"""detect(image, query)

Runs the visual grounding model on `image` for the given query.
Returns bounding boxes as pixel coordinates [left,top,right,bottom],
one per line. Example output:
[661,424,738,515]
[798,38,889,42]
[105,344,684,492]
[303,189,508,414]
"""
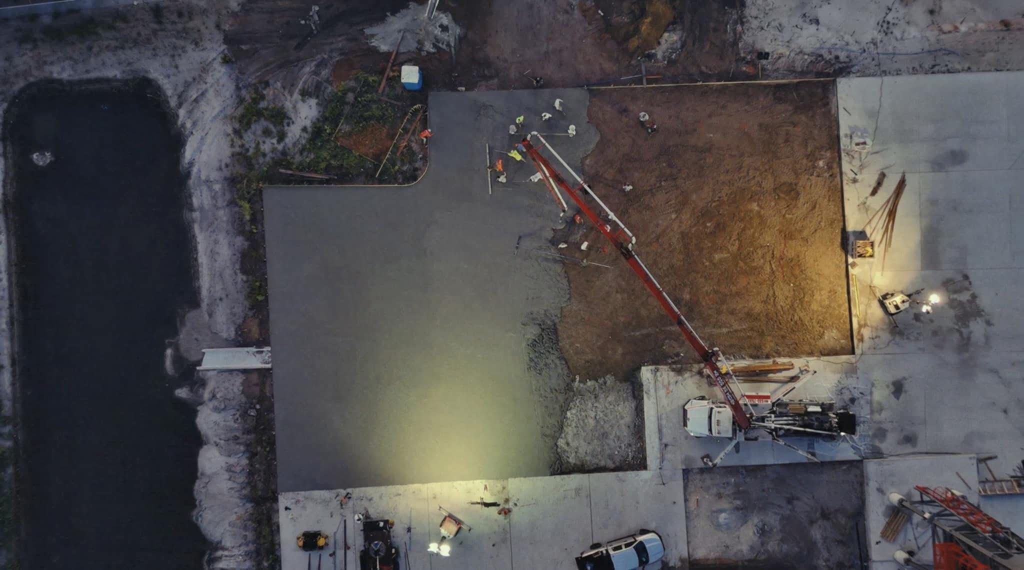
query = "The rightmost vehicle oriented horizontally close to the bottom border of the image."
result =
[571,528,668,570]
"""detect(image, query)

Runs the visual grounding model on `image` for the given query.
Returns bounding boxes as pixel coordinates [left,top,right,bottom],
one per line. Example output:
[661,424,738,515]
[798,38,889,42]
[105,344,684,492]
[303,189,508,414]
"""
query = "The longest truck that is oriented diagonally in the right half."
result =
[522,130,857,467]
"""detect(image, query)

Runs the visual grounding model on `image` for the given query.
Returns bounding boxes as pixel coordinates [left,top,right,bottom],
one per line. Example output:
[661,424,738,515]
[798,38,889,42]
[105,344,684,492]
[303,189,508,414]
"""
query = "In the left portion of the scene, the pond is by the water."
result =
[6,78,221,570]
